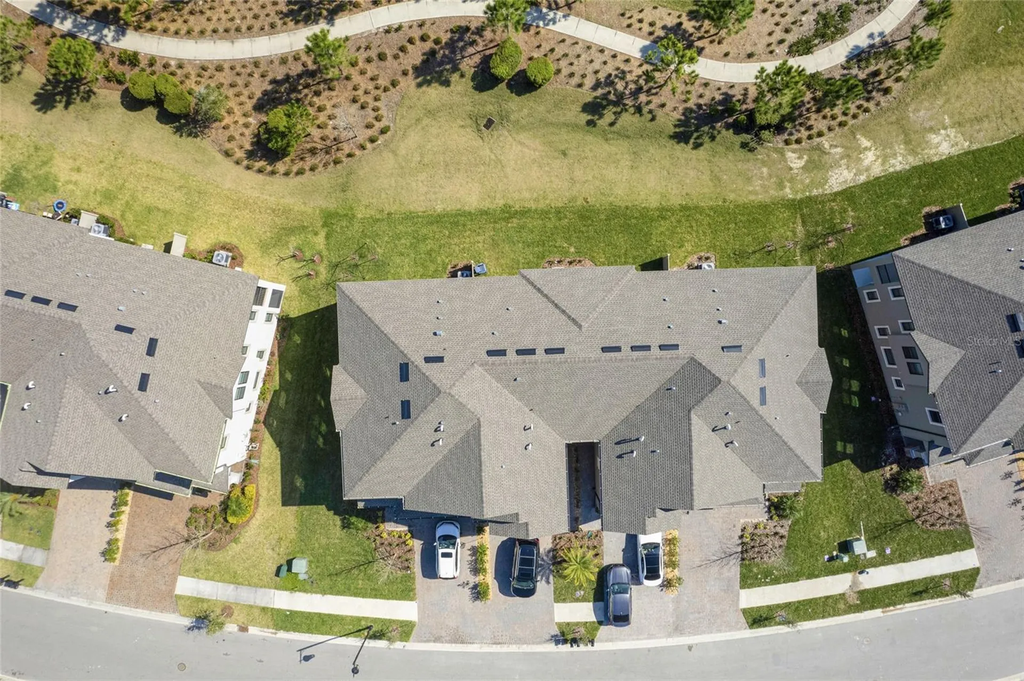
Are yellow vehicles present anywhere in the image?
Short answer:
No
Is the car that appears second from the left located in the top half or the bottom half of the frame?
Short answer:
bottom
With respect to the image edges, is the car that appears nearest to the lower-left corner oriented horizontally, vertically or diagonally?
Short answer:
vertically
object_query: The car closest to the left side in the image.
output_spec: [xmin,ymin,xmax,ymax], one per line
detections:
[434,520,462,579]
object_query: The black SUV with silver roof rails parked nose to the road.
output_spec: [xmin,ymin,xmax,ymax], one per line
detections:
[510,538,539,596]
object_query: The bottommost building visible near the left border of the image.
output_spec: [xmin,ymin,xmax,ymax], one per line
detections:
[0,208,283,502]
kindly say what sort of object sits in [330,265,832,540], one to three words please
house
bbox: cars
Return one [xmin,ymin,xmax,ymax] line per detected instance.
[635,533,664,587]
[604,562,634,627]
[434,520,462,579]
[510,538,539,596]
